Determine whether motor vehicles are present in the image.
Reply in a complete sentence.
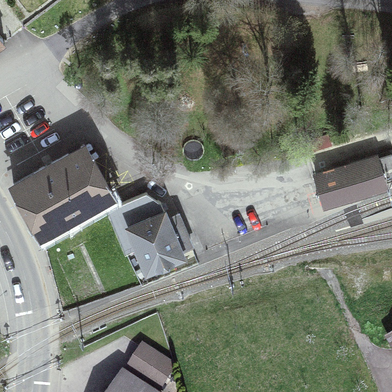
Yes, there's a motor vehicle down there.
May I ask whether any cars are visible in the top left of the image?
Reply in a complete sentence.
Yes, looking in the top left of the image, one can make out a car.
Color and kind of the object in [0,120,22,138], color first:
white car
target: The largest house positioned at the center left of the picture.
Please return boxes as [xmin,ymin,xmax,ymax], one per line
[9,142,122,252]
